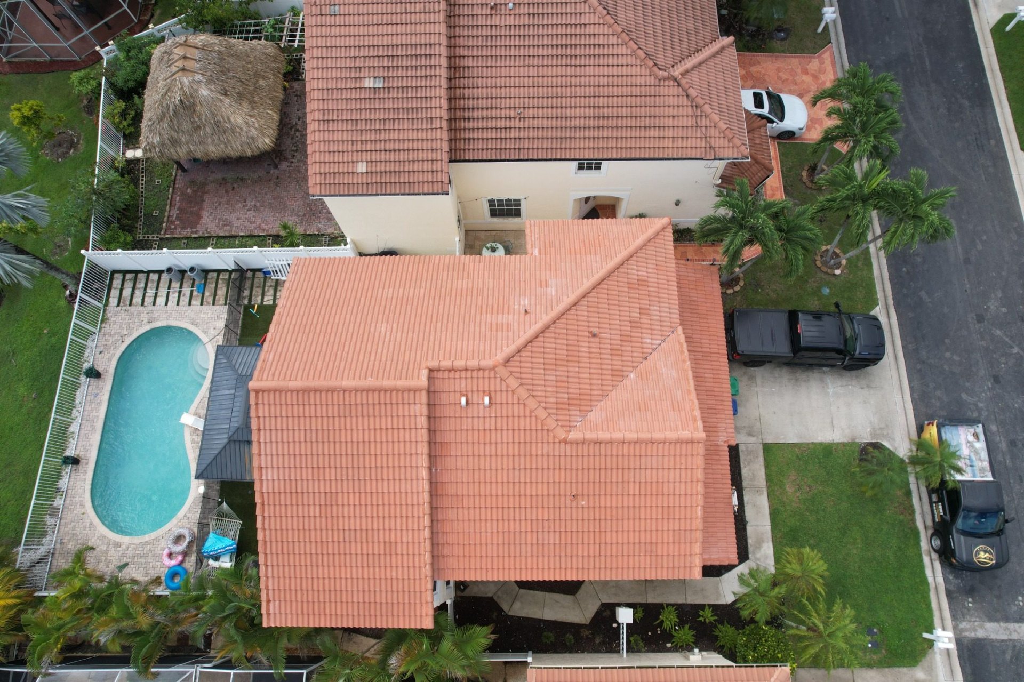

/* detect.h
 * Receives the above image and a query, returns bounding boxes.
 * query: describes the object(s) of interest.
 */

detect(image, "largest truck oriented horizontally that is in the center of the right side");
[724,313,890,383]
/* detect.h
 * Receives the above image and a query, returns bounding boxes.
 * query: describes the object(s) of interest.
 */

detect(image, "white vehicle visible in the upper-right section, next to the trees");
[742,83,808,141]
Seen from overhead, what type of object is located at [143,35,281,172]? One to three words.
shed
